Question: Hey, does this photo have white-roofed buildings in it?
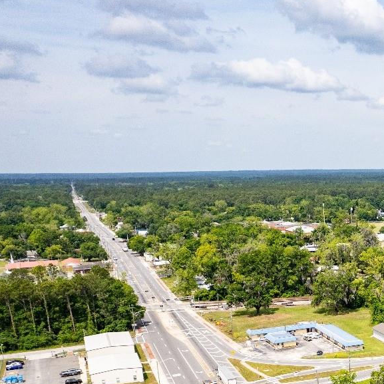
Yes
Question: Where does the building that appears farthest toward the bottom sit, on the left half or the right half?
left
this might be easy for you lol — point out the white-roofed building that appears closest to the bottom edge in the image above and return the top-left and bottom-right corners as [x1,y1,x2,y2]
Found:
[88,355,148,384]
